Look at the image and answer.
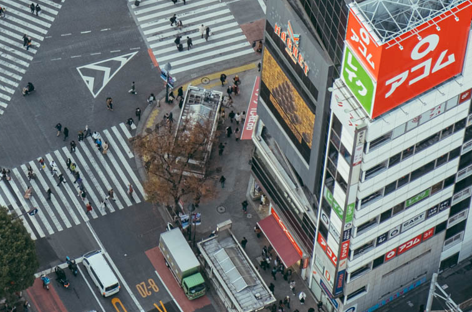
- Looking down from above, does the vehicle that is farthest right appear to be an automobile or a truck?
truck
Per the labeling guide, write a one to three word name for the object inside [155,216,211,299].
truck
